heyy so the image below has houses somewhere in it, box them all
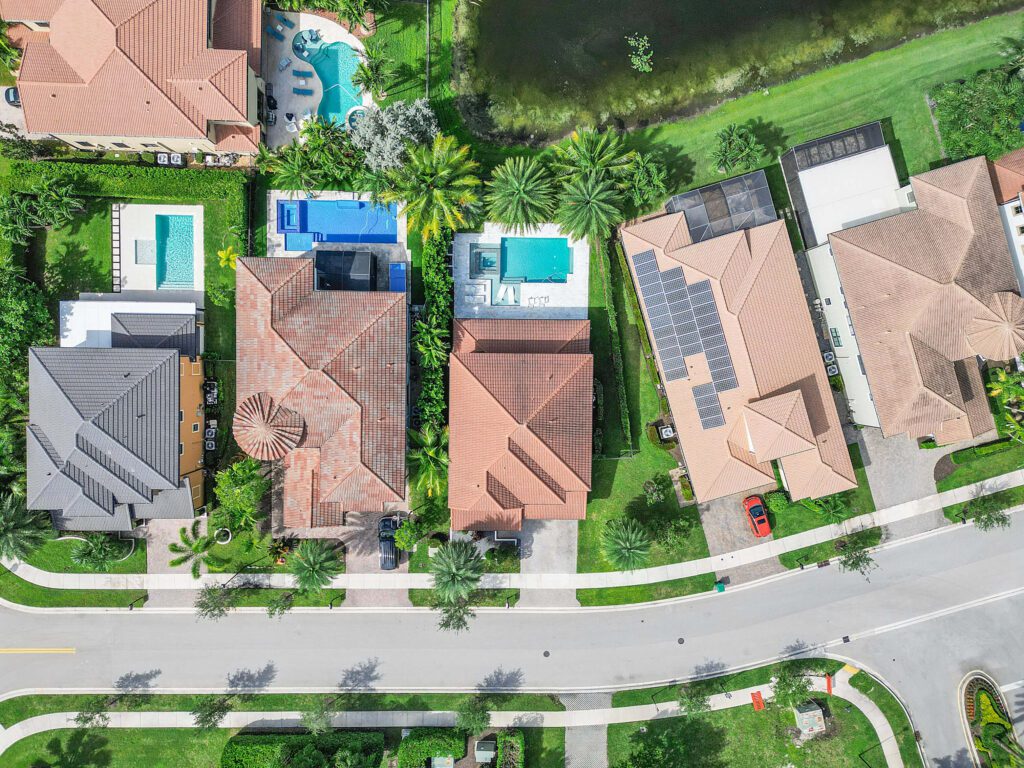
[797,145,1024,446]
[448,318,594,531]
[25,301,206,532]
[0,0,266,159]
[232,256,410,528]
[620,210,858,504]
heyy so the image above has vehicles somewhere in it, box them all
[376,515,400,568]
[739,493,775,539]
[2,84,22,108]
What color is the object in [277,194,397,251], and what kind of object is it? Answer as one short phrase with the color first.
blue swimming pool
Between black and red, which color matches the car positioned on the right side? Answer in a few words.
red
